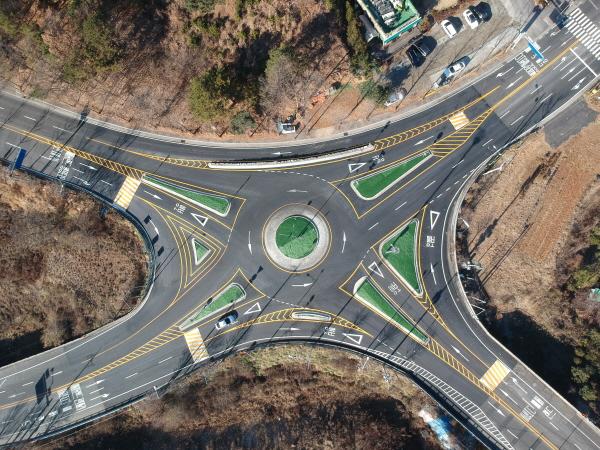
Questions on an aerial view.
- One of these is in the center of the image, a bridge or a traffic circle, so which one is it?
traffic circle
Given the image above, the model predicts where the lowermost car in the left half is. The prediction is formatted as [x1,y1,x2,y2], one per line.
[214,311,238,330]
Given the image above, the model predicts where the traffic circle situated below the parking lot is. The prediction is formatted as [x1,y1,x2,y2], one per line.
[142,142,432,344]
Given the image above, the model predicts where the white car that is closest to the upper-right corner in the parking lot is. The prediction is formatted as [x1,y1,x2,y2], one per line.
[462,8,480,30]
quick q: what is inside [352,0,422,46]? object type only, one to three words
building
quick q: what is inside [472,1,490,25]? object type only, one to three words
car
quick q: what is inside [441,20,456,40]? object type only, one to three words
car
